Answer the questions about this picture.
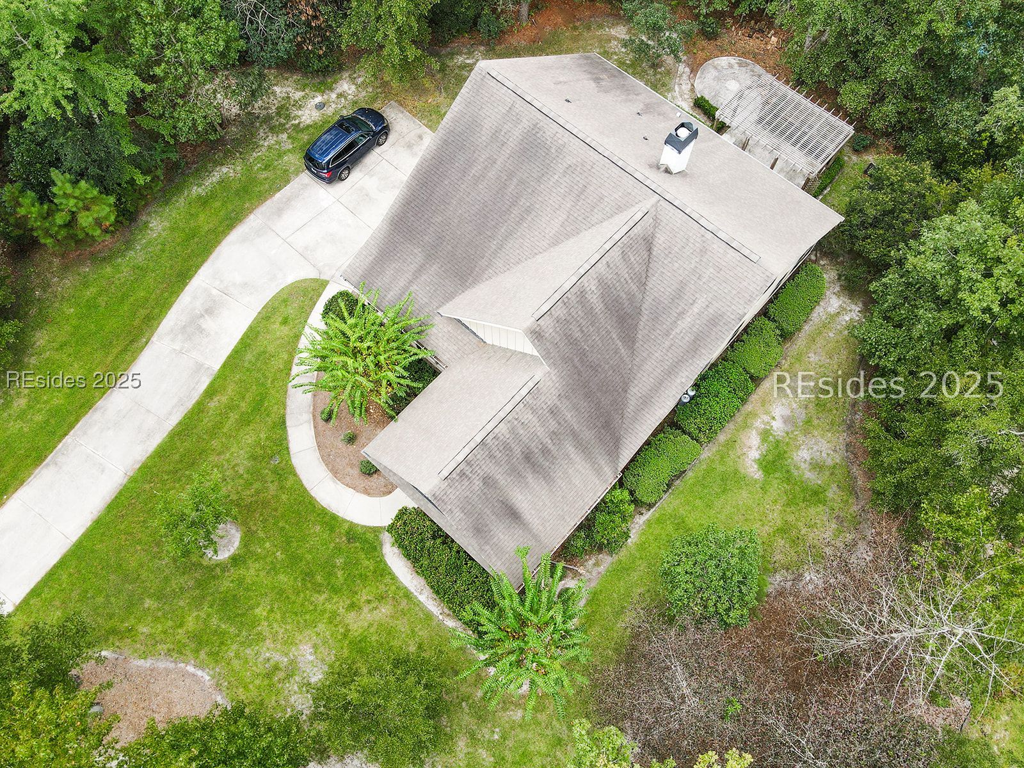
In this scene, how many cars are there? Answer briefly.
1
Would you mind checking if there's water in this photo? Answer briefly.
No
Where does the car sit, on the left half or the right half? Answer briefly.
left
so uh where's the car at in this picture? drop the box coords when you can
[297,103,389,187]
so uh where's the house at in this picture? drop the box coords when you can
[339,51,844,594]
